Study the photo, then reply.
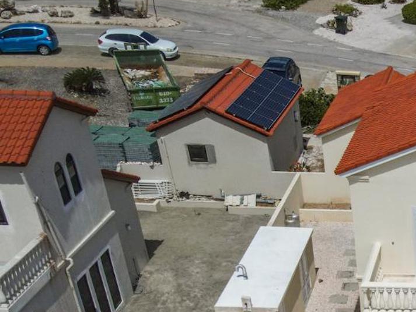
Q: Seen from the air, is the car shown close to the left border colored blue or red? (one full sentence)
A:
In this view, the car shown close to the left border is blue.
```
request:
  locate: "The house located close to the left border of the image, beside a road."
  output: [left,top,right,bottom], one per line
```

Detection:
[0,86,149,312]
